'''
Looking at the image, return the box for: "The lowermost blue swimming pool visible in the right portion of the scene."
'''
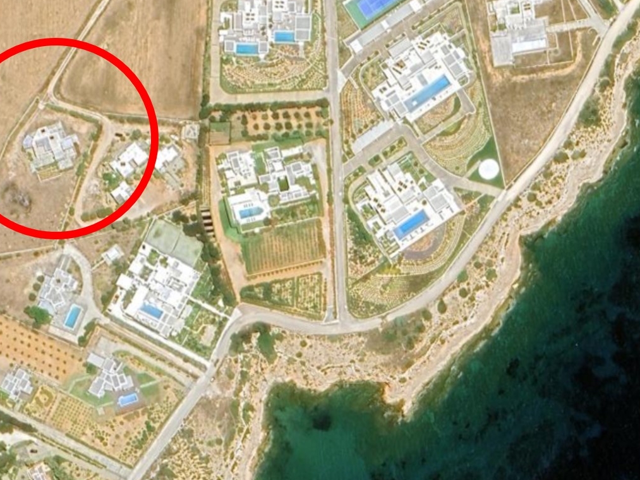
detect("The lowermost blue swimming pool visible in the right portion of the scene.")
[392,209,430,240]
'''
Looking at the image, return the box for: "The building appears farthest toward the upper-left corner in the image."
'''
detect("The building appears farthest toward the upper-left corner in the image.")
[24,121,80,181]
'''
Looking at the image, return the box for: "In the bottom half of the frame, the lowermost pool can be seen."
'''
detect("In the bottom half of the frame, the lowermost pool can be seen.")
[118,392,138,407]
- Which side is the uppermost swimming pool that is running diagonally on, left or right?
right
